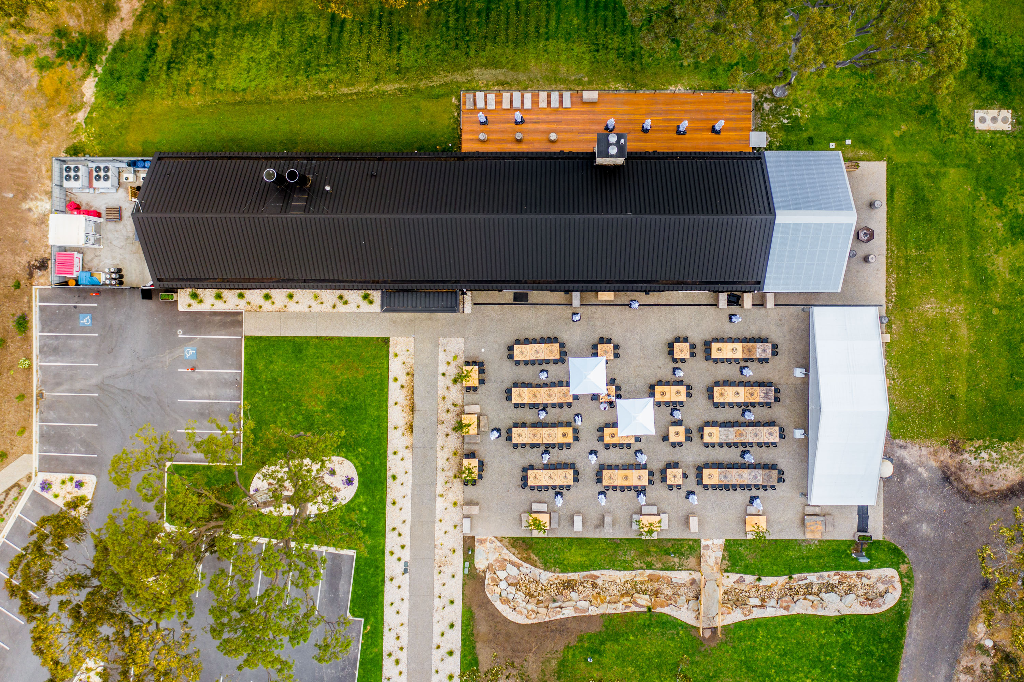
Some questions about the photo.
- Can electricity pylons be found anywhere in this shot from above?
No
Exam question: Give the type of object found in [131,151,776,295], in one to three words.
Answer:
building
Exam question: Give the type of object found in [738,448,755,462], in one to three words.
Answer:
umbrella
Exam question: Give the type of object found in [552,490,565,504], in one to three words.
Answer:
umbrella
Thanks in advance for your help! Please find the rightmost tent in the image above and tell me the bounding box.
[798,305,889,506]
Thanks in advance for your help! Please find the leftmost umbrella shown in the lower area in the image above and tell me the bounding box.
[489,425,504,440]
